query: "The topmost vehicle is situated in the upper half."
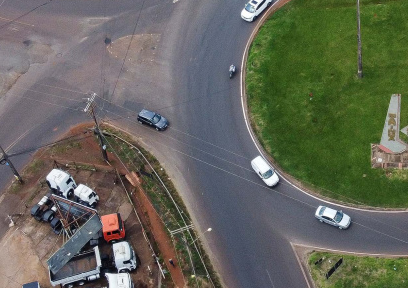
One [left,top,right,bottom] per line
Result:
[242,0,271,20]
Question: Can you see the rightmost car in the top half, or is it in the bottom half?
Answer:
bottom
